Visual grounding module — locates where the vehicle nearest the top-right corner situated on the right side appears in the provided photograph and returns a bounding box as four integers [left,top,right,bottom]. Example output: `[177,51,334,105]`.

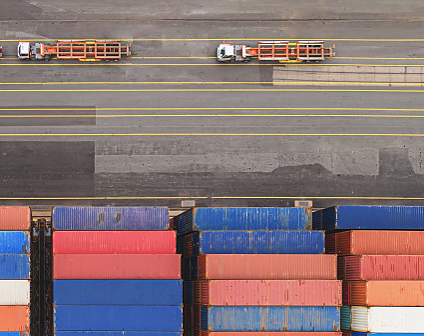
[221,38,333,63]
